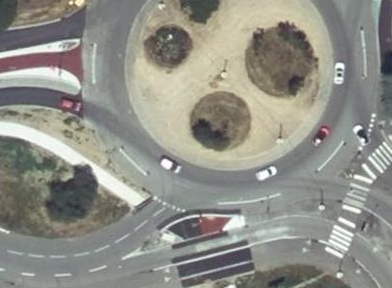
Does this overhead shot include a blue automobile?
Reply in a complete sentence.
No, no blue automobile is visible in the view.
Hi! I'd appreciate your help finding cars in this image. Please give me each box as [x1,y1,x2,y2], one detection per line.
[312,126,331,146]
[60,98,83,111]
[256,166,278,180]
[354,125,370,146]
[334,62,345,84]
[160,156,182,174]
